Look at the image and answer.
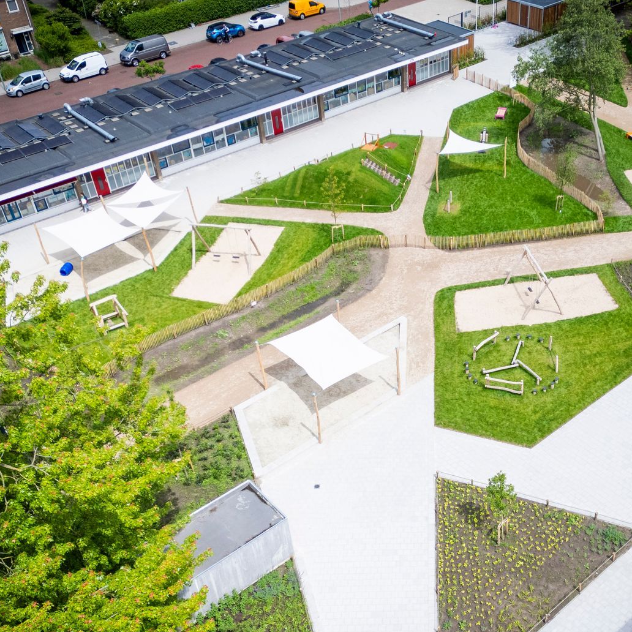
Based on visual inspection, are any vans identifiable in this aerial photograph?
Yes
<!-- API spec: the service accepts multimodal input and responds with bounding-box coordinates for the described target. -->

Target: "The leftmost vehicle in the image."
[3,65,53,94]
